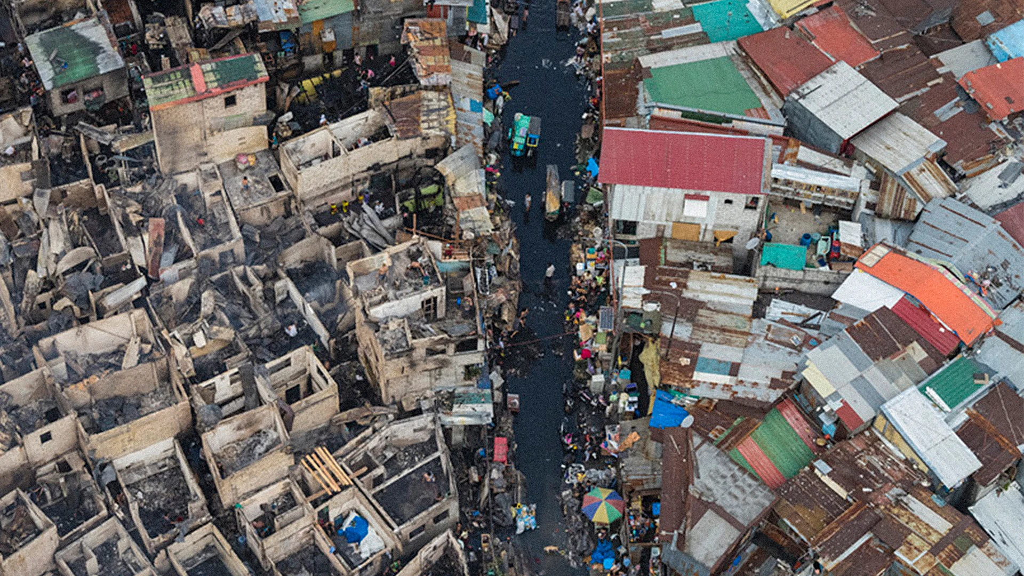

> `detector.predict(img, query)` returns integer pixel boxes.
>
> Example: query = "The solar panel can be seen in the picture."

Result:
[597,306,615,346]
